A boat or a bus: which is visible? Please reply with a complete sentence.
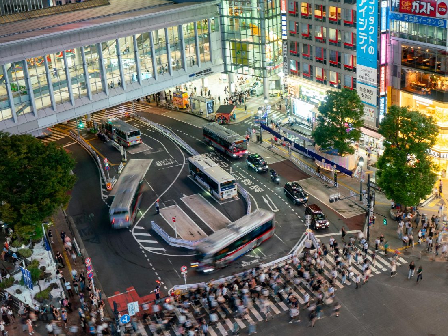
Looking from above, you can make out a bus.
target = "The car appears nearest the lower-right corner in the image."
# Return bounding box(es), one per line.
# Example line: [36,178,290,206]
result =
[304,198,330,223]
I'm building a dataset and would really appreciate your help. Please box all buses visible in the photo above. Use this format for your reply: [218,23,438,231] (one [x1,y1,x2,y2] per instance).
[195,119,249,156]
[181,205,278,272]
[186,148,238,196]
[111,169,150,226]
[94,112,142,144]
